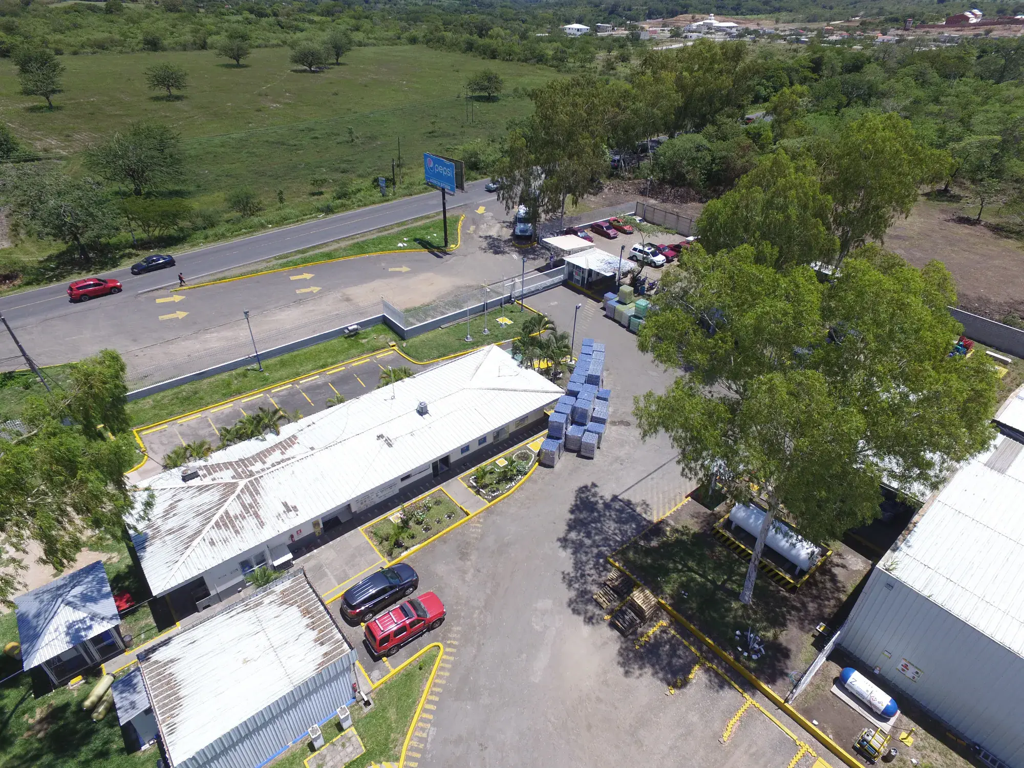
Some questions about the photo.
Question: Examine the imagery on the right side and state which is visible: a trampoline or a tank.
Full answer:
Visible on the right side is a tank.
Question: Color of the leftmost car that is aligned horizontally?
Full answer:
In this view, the leftmost car that is aligned horizontally is red.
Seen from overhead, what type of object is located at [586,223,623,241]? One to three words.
car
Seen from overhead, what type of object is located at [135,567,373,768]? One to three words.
shed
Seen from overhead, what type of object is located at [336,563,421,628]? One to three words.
car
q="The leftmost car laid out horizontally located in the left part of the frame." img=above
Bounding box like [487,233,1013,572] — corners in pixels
[67,275,125,301]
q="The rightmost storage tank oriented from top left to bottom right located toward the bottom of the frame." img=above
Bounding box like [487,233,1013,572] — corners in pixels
[837,666,899,722]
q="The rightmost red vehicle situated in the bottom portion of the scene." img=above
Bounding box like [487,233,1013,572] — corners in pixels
[360,590,448,660]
